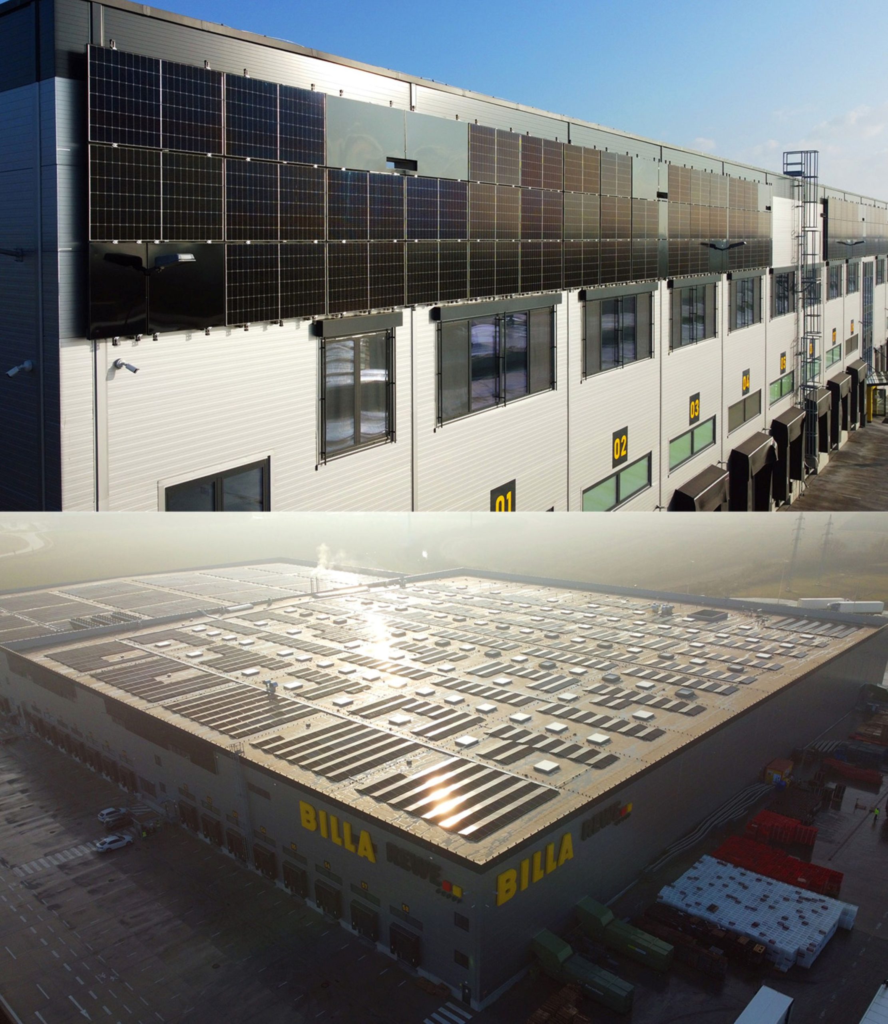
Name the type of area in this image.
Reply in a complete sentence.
What you see here is an industrial area.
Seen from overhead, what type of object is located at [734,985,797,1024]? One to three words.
trailer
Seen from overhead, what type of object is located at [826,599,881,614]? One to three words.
trailer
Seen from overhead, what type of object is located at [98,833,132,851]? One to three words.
car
